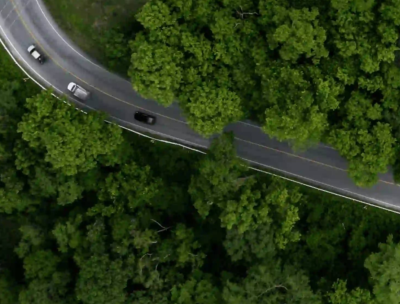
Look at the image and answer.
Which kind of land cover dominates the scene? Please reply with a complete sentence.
The bulk of the photo consists of trees.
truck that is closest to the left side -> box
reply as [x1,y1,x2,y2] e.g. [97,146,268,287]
[25,44,48,68]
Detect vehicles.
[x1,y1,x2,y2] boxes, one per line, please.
[134,110,157,124]
[25,44,48,68]
[67,82,93,102]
